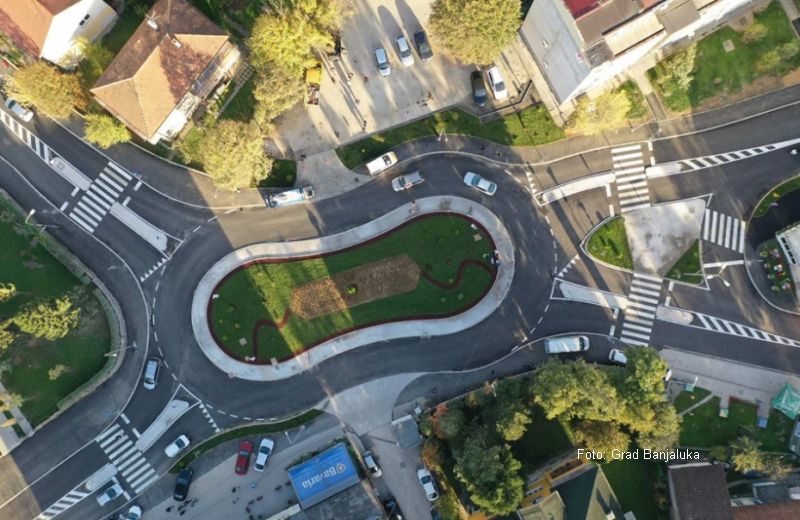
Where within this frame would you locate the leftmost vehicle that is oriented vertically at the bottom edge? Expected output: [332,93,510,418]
[174,465,195,502]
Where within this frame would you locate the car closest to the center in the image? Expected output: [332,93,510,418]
[390,170,426,192]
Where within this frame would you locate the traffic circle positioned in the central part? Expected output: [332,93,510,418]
[191,194,516,382]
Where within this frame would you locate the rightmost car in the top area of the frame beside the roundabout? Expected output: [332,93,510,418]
[462,172,498,196]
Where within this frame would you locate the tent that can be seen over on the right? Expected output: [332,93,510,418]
[759,377,800,421]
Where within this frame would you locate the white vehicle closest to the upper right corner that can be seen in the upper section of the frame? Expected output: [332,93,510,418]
[486,65,507,102]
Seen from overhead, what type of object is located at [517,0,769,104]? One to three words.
building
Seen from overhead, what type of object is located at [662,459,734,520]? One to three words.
house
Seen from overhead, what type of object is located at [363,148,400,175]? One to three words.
vehicle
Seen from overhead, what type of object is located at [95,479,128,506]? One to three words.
car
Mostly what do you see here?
paved ground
